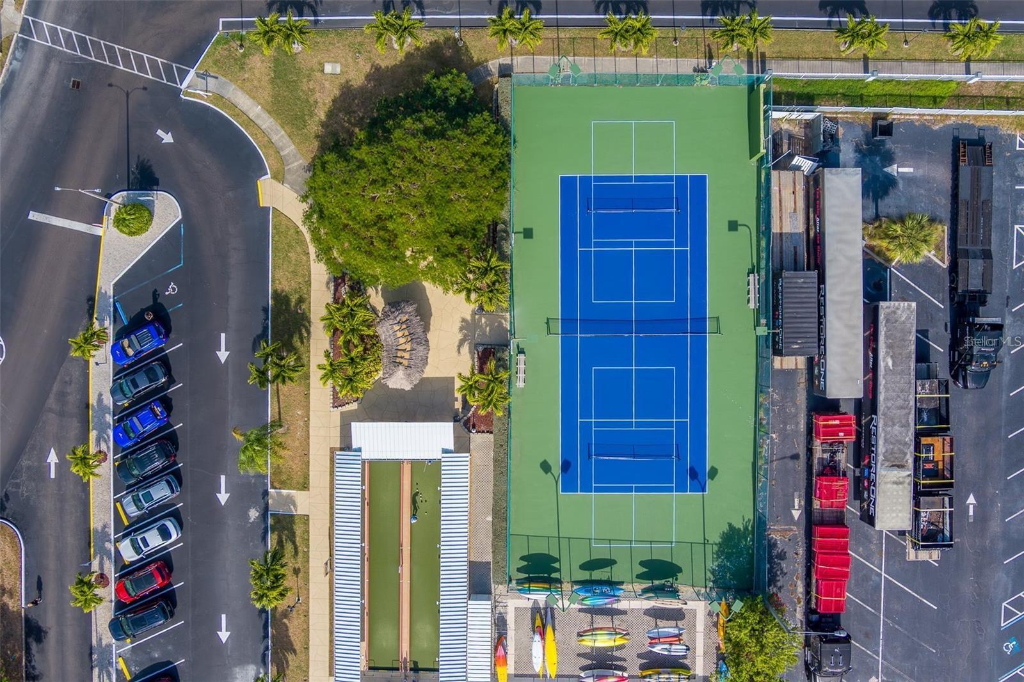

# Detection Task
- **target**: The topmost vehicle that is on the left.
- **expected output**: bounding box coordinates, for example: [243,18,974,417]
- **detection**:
[110,320,174,364]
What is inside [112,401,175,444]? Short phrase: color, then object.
blue car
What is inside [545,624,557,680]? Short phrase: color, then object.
yellow boat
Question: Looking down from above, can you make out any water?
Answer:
No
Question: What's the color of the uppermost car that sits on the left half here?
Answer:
blue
